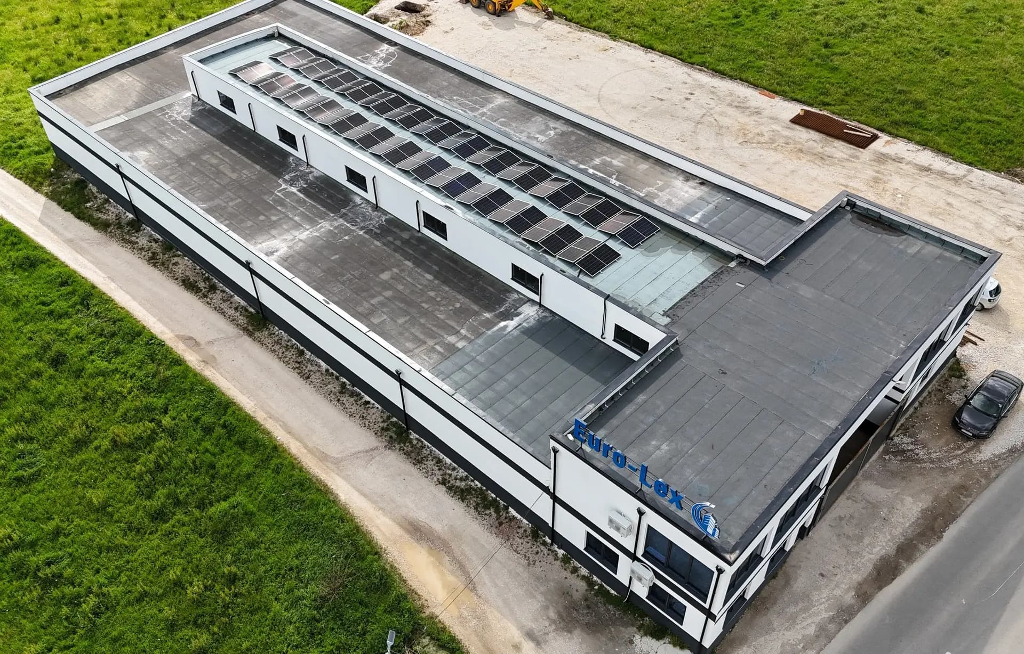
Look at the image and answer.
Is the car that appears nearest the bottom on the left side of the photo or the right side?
right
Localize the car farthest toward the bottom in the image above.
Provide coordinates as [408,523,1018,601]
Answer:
[955,371,1023,443]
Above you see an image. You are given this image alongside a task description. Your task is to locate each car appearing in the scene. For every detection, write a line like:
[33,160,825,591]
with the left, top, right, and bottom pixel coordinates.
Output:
[975,277,1003,311]
[955,371,1023,443]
